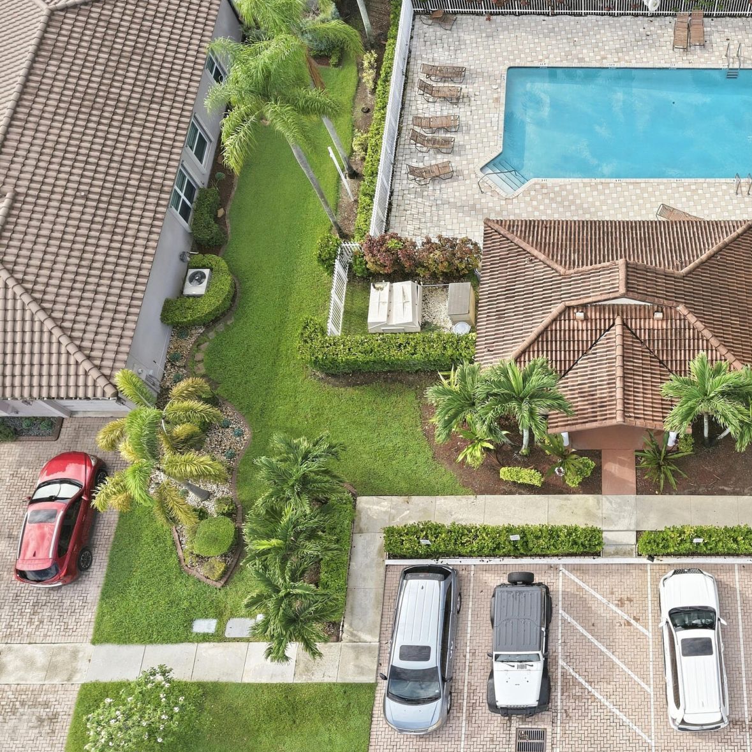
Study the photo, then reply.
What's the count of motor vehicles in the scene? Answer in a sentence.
I count 4 motor vehicles.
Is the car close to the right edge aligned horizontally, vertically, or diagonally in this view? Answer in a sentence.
Seen from above, the car close to the right edge lies vertically.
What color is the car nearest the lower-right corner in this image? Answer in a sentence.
In this view, the car nearest the lower-right corner is white.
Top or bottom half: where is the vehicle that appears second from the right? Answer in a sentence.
You can find the vehicle that appears second from the right in the bottom half.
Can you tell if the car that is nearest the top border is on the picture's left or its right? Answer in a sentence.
You can find the car that is nearest the top border on the left side of the picture.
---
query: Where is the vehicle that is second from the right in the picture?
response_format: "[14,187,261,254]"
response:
[482,562,554,722]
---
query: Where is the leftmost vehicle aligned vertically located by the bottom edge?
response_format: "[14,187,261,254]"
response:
[378,562,464,738]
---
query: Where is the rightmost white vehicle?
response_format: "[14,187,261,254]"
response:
[659,564,733,735]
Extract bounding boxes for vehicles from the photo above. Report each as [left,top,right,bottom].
[378,562,464,738]
[482,562,554,722]
[659,564,733,735]
[6,452,111,592]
